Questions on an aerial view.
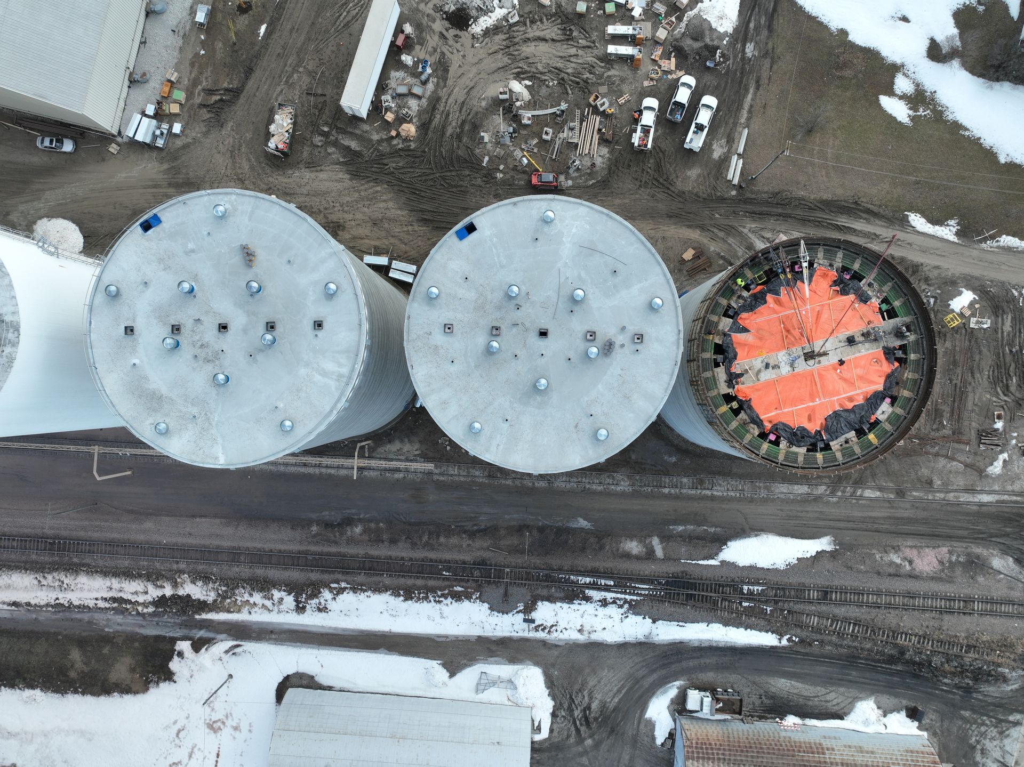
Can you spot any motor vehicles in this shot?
Yes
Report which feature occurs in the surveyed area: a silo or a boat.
silo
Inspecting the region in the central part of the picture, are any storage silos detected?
Yes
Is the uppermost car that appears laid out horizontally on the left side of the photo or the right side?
left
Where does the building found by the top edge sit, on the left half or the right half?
left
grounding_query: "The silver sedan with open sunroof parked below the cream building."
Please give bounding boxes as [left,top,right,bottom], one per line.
[37,135,78,155]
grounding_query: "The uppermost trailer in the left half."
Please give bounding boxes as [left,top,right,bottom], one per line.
[340,0,399,120]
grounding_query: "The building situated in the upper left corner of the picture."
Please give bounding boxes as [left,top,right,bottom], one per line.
[0,0,150,135]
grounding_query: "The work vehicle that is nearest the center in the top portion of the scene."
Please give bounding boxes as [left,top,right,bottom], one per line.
[531,172,566,193]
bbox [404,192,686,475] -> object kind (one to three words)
silo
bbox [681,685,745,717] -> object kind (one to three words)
truck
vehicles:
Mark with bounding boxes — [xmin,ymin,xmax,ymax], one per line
[665,73,696,127]
[629,96,660,156]
[531,172,566,193]
[683,94,718,158]
[37,135,78,155]
[681,685,745,717]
